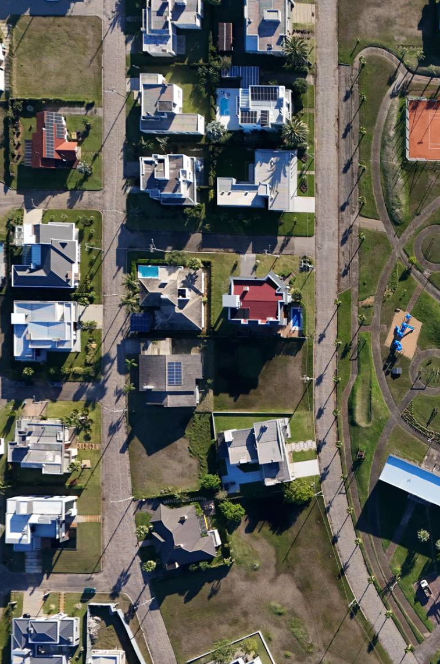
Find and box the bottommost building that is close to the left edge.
[12,617,80,664]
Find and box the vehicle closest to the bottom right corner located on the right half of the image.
[419,580,432,597]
